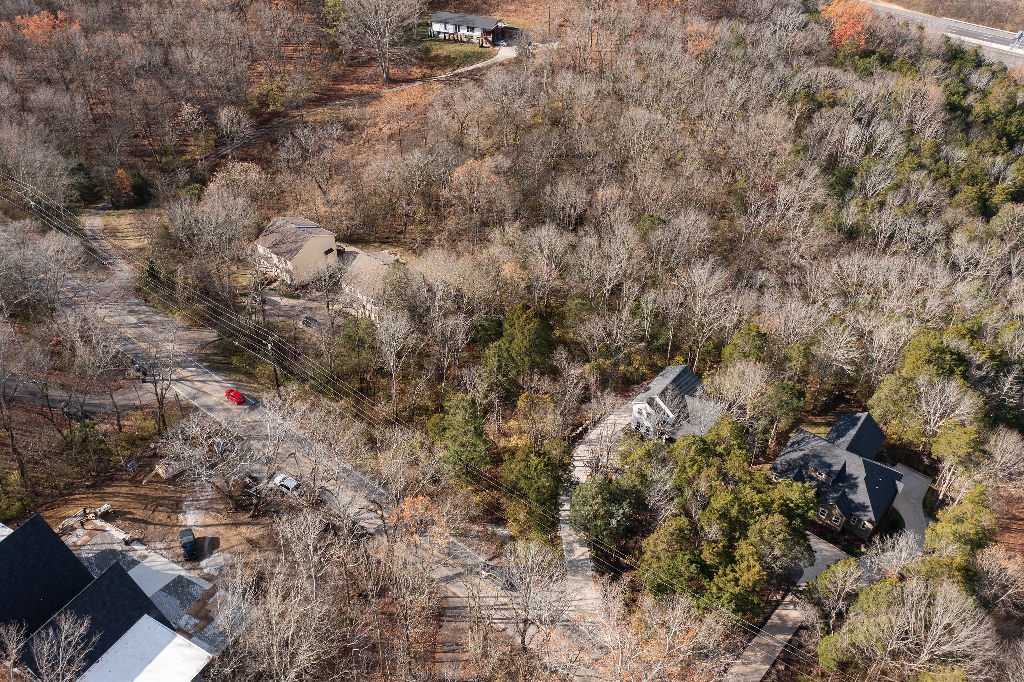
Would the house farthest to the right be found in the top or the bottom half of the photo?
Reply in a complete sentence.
The house farthest to the right sits in the bottom half of the picture.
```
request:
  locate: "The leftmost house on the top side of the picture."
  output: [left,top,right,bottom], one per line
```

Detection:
[250,218,348,290]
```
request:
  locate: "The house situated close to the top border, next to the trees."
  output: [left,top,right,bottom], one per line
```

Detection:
[430,12,506,47]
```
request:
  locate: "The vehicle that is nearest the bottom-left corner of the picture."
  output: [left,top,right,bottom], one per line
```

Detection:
[89,499,120,520]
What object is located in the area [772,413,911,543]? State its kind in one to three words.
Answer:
house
